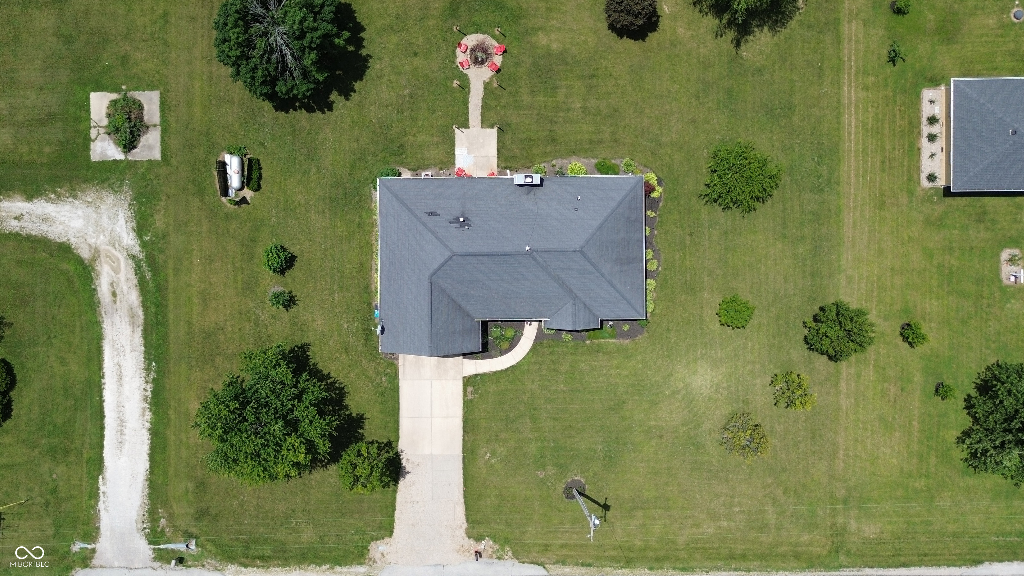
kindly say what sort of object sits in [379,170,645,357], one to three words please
house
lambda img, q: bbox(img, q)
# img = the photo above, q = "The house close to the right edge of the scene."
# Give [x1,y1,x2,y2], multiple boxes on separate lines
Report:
[938,77,1024,191]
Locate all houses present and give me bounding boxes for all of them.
[938,77,1024,191]
[379,170,645,357]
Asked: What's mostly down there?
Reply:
grass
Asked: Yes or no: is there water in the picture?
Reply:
No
